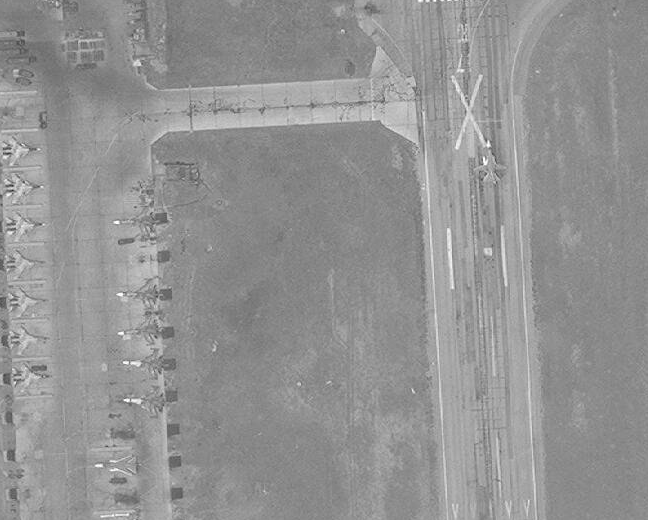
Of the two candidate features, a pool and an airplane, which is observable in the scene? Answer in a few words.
airplane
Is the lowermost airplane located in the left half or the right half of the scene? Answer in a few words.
left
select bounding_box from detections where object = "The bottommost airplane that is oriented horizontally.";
[96,454,138,475]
